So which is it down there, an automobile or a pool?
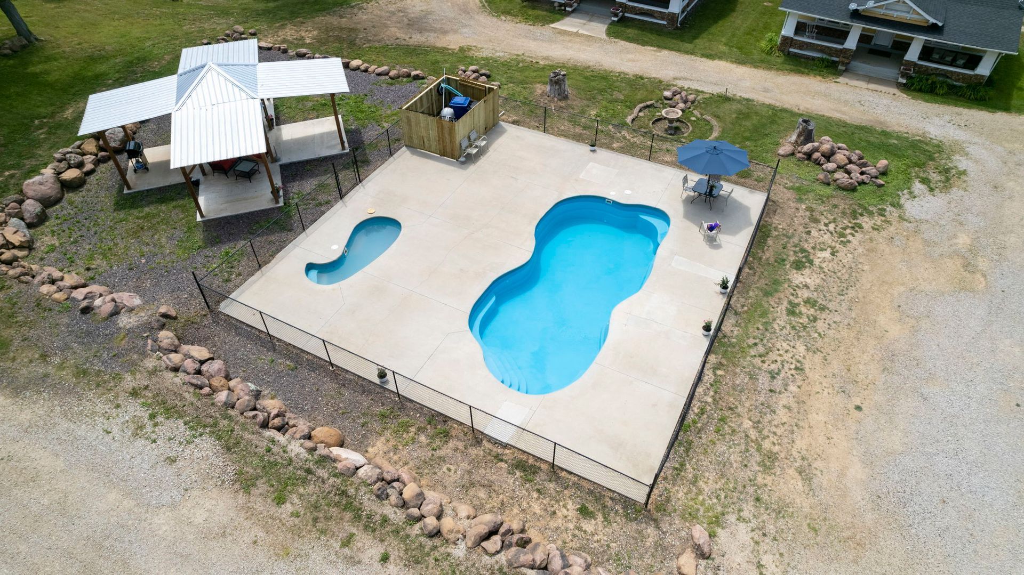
pool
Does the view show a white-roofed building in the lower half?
No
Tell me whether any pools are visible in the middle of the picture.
Yes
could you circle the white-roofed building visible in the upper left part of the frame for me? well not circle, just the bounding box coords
[77,38,352,218]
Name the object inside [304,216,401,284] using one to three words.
swimming pool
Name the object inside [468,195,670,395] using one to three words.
swimming pool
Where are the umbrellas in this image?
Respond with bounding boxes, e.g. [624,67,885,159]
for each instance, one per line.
[681,138,753,204]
